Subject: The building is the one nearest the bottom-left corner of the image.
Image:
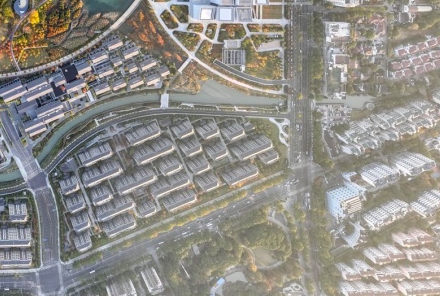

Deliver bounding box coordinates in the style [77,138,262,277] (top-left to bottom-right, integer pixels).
[0,248,31,266]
